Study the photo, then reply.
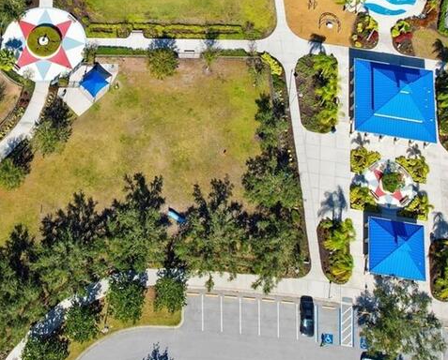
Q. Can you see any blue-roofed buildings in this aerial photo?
Yes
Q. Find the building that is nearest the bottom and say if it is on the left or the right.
right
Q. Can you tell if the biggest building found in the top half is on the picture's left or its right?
right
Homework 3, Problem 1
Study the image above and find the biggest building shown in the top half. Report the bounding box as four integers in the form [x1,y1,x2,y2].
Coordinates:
[352,59,437,147]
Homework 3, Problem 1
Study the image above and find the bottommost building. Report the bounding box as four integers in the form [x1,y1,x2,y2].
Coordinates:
[366,217,426,281]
